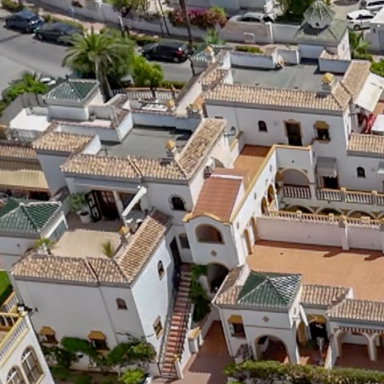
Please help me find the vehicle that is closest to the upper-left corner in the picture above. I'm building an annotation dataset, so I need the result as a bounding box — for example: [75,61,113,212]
[0,7,45,31]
